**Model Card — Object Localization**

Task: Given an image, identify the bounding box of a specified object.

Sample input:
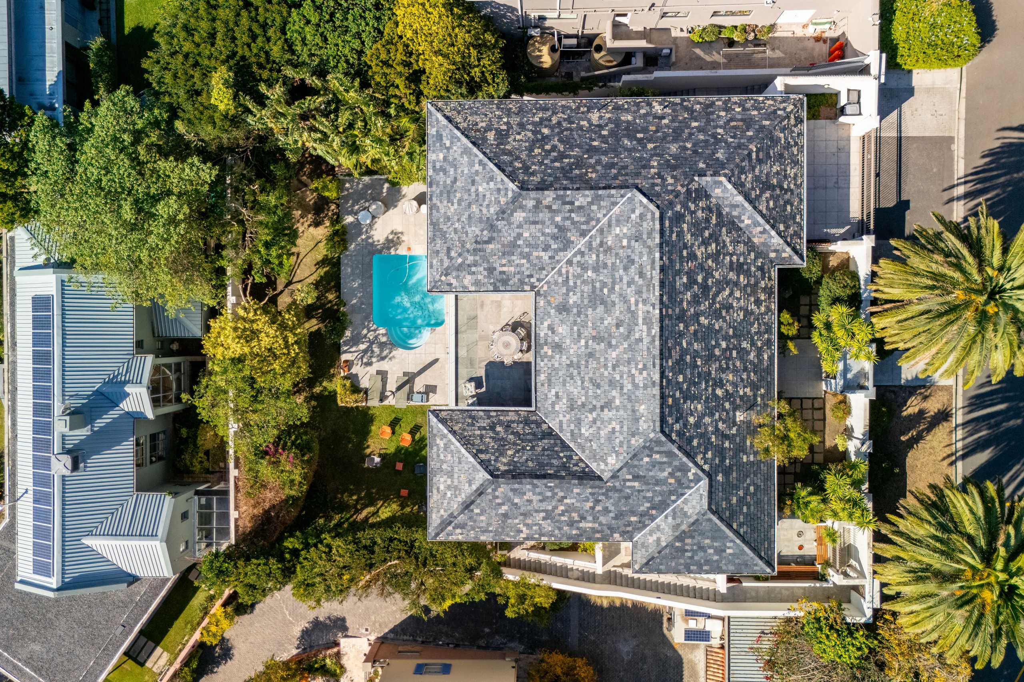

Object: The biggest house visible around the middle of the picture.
[425,92,808,577]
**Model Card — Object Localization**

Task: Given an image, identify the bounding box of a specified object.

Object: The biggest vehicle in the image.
[666,607,723,647]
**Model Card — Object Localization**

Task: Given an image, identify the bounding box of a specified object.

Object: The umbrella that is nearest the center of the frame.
[379,390,396,403]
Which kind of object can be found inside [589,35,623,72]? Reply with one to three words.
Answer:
water tank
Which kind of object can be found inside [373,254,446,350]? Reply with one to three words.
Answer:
swimming pool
